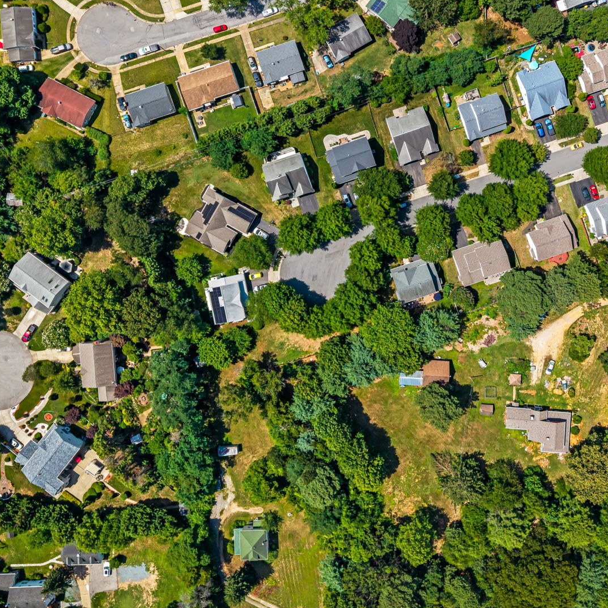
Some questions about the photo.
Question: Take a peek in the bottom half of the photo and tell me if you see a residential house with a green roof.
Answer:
Yes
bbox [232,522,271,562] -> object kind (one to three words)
house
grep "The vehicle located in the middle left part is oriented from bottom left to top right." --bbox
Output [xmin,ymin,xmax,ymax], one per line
[24,325,36,342]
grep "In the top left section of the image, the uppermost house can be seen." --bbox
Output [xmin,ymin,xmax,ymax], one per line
[0,6,38,62]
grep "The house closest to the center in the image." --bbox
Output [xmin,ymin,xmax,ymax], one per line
[208,274,247,324]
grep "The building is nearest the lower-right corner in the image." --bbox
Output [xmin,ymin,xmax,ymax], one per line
[504,406,572,455]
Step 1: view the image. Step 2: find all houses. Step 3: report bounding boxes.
[326,136,376,186]
[15,422,88,497]
[263,152,312,205]
[504,406,572,455]
[232,522,271,562]
[177,61,239,111]
[9,252,71,311]
[584,197,608,237]
[457,92,509,142]
[556,0,596,11]
[452,240,508,282]
[208,274,247,324]
[390,259,440,301]
[0,570,52,608]
[256,39,306,86]
[35,77,97,127]
[124,82,175,125]
[516,61,571,121]
[386,106,438,165]
[326,12,377,64]
[525,215,579,263]
[579,49,608,91]
[0,6,38,62]
[367,0,416,29]
[72,338,120,402]
[184,184,257,255]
